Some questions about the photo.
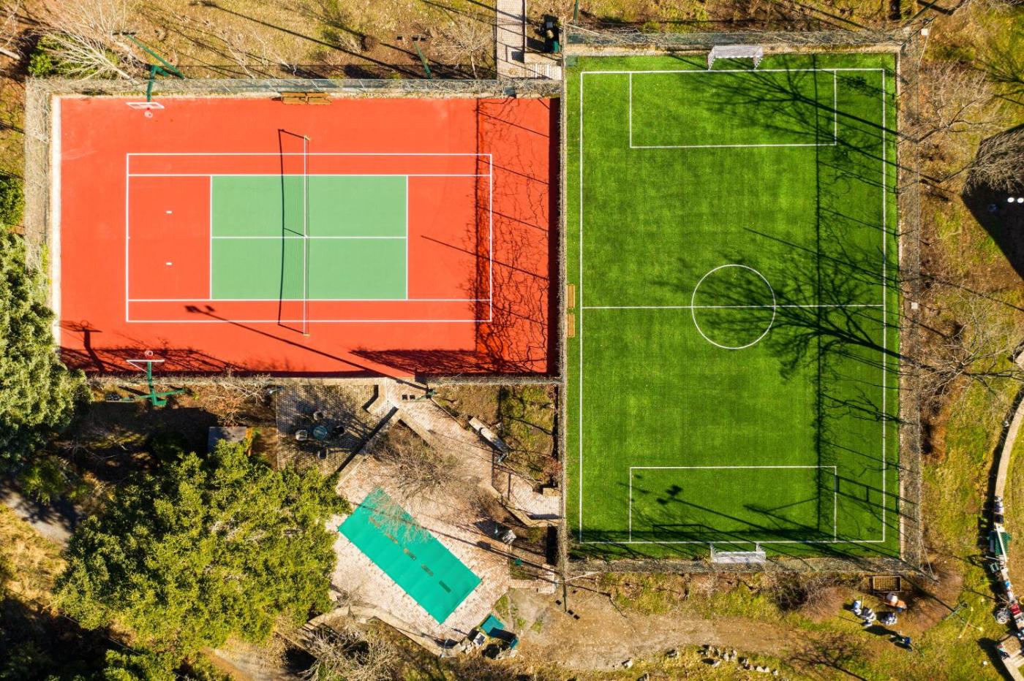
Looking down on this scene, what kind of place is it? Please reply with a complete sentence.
This looks like a sports ground.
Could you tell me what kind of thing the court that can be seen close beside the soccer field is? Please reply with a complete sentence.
What you see as the court that can be seen close beside the soccer field is a tennis court.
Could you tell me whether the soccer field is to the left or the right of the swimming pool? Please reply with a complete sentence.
From the viewer's perspective, the soccer field falls to the right of the swimming pool.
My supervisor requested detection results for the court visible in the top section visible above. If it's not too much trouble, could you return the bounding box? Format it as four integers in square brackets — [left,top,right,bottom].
[59,97,560,379]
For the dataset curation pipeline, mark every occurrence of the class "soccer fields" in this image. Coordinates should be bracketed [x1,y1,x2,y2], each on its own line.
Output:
[566,54,898,560]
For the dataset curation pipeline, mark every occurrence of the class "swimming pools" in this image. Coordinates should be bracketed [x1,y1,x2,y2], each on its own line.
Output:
[336,486,483,626]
